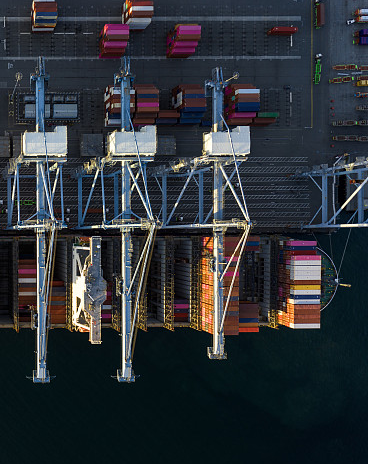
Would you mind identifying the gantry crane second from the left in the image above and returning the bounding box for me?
[69,55,155,385]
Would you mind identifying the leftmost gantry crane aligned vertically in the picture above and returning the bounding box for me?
[1,55,65,385]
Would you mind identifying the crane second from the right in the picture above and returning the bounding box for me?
[146,55,265,361]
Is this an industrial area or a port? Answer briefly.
port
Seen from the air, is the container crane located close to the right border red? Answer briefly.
No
